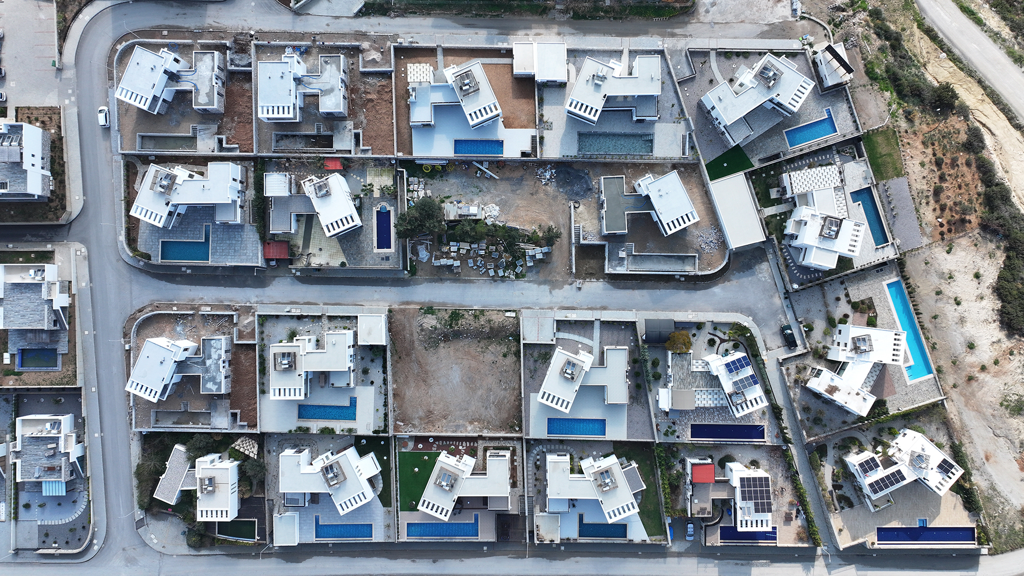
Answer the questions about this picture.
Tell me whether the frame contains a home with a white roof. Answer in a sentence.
Yes, this view includes a home with a white roof.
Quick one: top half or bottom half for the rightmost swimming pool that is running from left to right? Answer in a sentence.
The rightmost swimming pool that is running from left to right is in the bottom half of the image.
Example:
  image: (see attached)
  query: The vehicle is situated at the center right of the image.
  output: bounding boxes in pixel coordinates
[782,323,799,350]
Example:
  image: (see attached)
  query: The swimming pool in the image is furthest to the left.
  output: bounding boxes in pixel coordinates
[15,346,59,370]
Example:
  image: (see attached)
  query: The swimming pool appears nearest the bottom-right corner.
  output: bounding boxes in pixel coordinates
[876,517,977,543]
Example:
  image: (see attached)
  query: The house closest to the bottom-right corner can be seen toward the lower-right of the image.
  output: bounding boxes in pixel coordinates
[842,428,964,511]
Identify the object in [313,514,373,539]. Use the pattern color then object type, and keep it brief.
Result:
blue swimming pool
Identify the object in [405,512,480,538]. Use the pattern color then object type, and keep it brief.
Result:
blue swimming pool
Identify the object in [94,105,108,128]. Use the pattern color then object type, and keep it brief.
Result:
white car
